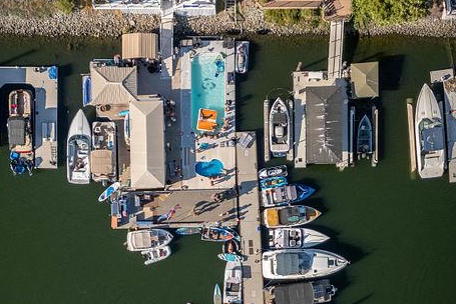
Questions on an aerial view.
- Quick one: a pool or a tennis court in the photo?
pool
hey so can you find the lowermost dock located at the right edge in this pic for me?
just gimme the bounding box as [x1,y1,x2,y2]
[443,82,456,182]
